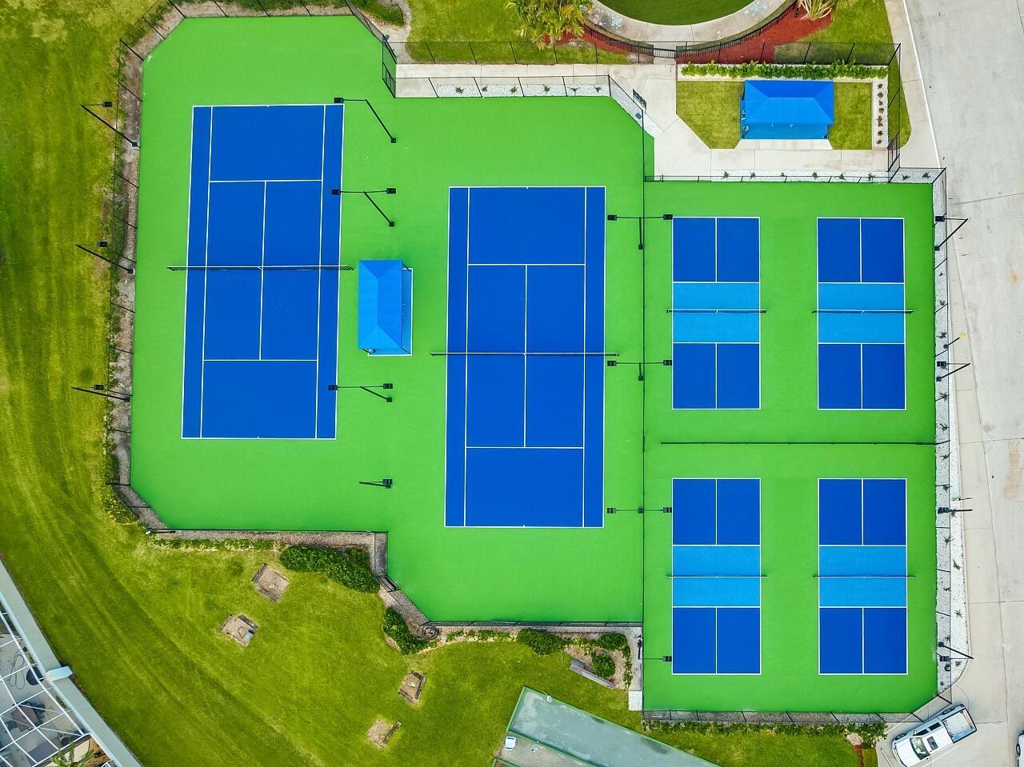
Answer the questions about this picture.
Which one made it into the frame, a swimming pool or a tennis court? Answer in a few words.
tennis court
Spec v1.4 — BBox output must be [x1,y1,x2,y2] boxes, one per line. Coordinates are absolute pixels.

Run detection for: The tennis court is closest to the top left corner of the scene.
[182,104,343,439]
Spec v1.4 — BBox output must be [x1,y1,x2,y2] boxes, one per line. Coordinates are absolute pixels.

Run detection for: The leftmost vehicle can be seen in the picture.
[889,704,979,767]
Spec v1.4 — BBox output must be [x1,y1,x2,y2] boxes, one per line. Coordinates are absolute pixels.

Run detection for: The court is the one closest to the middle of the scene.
[445,187,606,528]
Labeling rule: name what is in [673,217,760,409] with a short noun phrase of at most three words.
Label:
sports court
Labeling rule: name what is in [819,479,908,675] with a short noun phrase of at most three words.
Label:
sports court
